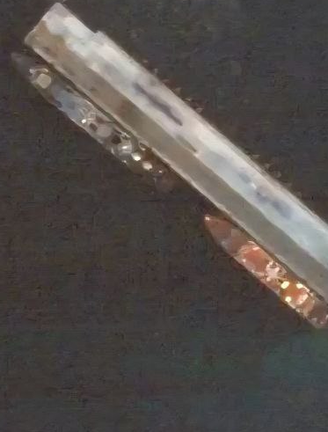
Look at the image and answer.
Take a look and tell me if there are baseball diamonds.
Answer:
No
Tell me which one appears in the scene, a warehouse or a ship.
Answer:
ship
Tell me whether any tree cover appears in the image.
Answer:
No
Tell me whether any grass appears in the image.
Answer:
No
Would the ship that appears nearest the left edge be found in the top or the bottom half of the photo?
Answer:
top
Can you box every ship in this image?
[206,216,328,335]
[11,51,176,196]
